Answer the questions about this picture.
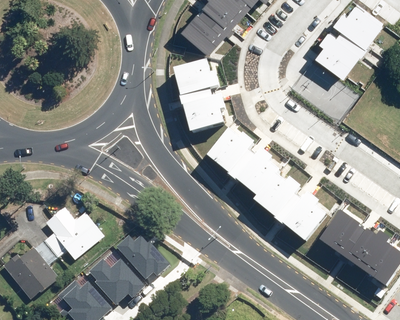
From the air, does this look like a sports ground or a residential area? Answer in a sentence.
This looks like a residential area.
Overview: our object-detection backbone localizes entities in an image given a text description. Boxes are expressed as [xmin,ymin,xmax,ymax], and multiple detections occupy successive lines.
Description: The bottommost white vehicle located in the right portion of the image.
[259,284,274,298]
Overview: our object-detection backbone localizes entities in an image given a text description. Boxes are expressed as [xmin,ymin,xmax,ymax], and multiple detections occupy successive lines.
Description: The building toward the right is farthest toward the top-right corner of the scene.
[334,4,384,52]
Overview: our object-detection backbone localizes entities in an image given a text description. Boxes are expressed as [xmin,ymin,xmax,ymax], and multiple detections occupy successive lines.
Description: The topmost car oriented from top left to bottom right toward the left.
[75,162,92,175]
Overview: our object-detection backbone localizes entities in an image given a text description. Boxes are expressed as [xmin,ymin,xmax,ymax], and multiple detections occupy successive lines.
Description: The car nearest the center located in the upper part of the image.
[268,116,283,133]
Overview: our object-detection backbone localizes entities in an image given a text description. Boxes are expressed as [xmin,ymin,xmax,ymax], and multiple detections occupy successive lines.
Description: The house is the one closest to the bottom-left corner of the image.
[6,248,56,298]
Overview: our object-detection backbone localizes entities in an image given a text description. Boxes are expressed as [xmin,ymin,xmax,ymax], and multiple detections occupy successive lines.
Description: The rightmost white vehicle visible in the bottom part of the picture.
[388,197,400,215]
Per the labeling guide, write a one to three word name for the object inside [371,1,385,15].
vehicle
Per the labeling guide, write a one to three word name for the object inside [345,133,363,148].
vehicle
